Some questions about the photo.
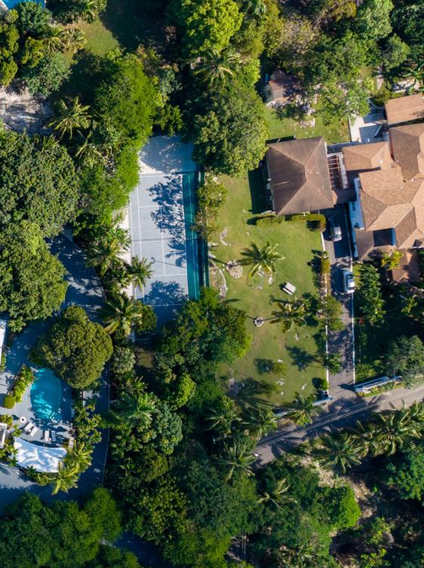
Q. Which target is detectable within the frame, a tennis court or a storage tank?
tennis court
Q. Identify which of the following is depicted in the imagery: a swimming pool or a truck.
swimming pool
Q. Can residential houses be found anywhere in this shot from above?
Yes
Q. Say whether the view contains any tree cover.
Yes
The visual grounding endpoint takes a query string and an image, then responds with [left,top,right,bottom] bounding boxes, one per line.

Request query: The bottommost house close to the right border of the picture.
[334,126,424,282]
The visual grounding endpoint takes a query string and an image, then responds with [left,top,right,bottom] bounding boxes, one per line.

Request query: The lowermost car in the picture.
[343,267,360,295]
